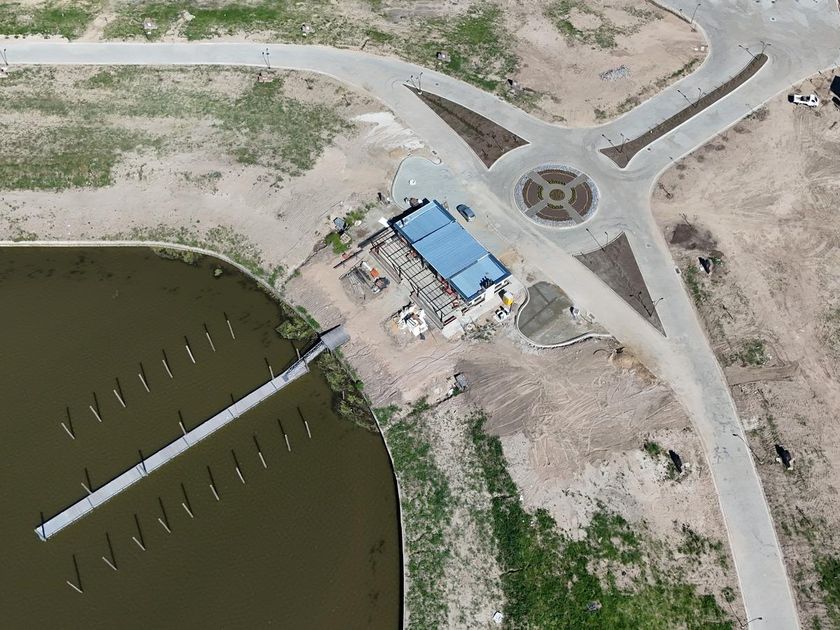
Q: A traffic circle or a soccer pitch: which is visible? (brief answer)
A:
traffic circle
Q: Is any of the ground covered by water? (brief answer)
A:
Yes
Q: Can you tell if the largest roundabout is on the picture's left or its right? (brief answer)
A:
right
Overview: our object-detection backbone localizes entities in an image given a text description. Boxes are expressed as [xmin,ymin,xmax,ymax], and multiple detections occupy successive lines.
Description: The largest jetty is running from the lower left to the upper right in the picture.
[38,368,308,540]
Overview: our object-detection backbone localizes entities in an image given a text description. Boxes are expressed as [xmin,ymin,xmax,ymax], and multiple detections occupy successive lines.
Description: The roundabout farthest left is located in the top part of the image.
[514,162,600,228]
